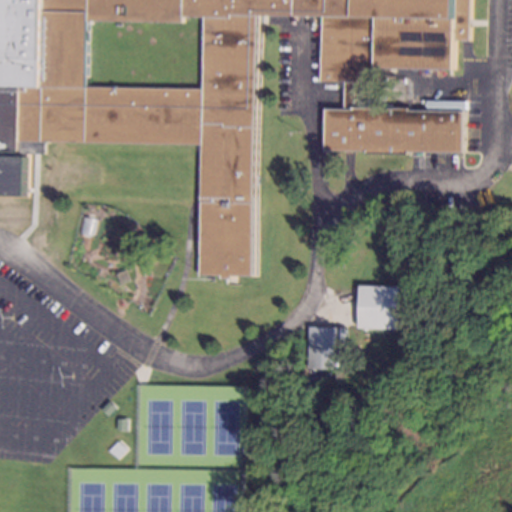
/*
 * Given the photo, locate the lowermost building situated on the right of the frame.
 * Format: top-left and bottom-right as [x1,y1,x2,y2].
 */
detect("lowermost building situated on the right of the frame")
[308,326,347,372]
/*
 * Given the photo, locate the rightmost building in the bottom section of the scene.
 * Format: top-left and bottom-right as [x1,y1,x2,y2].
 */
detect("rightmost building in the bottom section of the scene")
[358,286,404,331]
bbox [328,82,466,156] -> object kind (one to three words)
building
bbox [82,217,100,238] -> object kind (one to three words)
greenhouse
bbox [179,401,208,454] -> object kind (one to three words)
tennis court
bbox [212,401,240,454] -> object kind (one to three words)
tennis court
